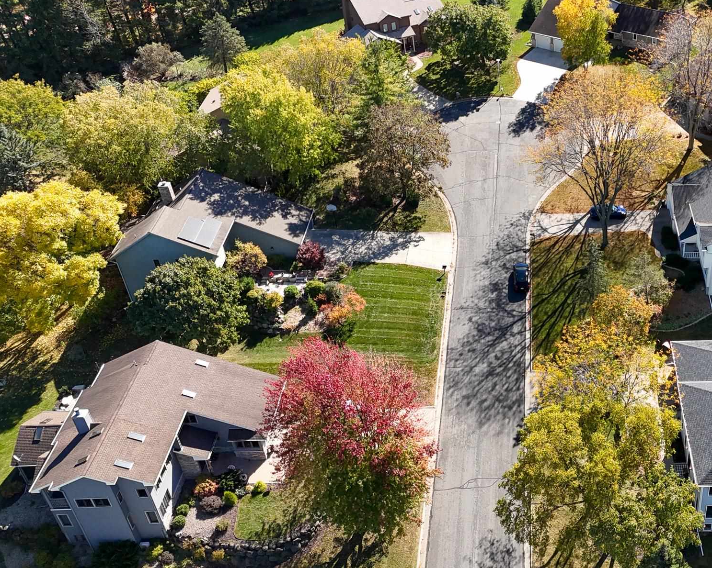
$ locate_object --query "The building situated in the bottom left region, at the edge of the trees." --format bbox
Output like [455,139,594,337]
[4,337,289,536]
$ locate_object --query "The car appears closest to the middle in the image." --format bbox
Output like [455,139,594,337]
[513,261,531,286]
